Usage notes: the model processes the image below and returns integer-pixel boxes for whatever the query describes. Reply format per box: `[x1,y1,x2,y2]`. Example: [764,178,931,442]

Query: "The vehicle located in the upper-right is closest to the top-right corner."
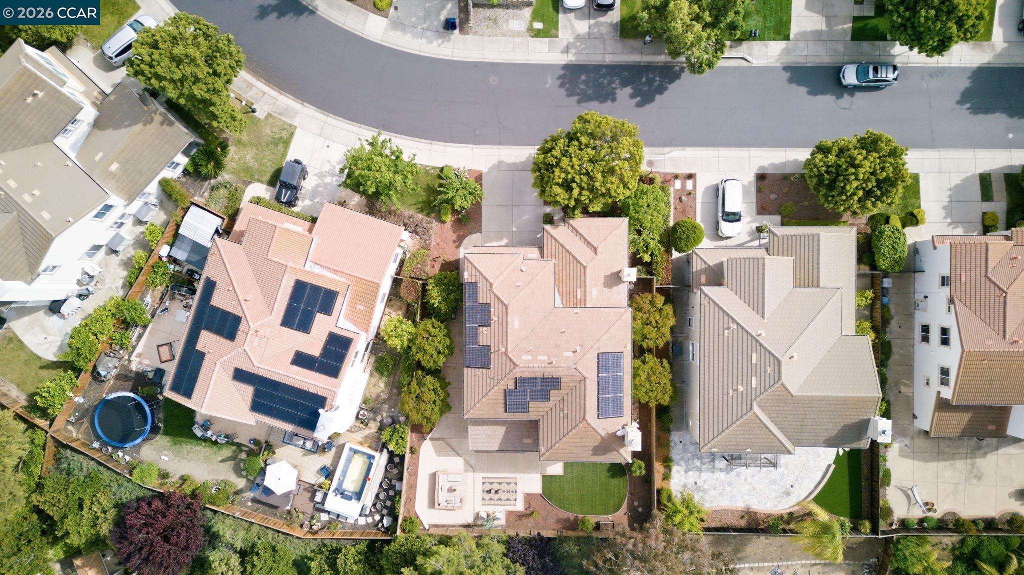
[841,58,902,87]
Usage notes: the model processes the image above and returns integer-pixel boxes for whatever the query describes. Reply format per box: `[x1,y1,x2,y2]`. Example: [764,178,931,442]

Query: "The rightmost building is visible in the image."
[914,227,1024,439]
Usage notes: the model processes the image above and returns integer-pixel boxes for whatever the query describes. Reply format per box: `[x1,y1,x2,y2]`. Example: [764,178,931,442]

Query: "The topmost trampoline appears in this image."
[152,344,171,364]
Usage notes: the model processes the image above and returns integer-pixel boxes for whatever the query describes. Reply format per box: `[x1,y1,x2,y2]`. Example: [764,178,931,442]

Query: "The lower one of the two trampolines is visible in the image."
[77,391,151,453]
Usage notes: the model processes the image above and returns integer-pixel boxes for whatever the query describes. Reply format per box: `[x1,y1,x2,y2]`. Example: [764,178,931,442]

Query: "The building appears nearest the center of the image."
[462,216,641,464]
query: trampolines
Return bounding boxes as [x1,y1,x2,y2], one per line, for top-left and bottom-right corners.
[152,344,171,364]
[77,391,151,453]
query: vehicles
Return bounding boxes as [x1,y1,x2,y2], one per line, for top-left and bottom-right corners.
[564,0,587,9]
[269,156,304,207]
[719,177,749,235]
[841,58,902,87]
[96,13,158,66]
